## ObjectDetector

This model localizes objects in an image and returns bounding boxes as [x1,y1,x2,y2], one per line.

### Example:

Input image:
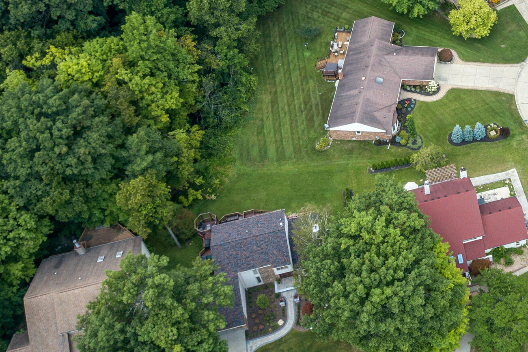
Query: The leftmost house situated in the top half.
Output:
[313,15,441,145]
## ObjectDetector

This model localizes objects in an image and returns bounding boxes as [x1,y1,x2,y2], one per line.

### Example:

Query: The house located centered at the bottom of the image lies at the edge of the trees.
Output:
[194,209,326,339]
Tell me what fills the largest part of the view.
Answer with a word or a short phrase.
trees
